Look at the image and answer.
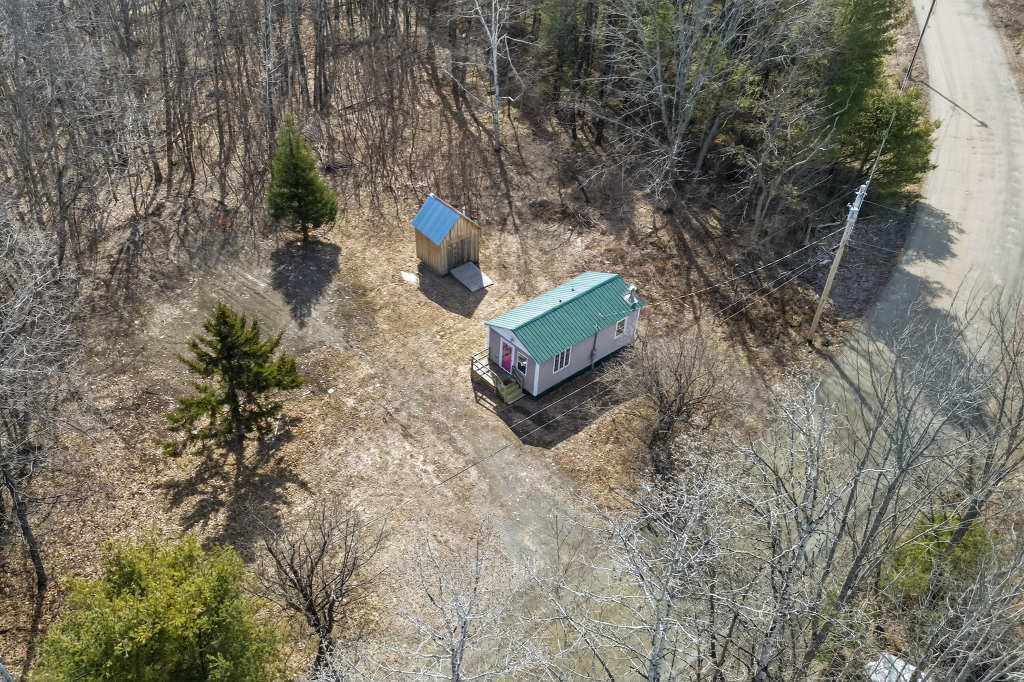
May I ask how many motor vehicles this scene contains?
0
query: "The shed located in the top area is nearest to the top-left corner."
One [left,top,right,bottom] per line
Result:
[411,193,481,277]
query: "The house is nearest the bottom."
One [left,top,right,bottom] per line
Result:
[484,271,645,400]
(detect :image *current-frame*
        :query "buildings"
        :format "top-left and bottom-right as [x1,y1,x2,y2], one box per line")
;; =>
[484,271,645,400]
[411,193,481,277]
